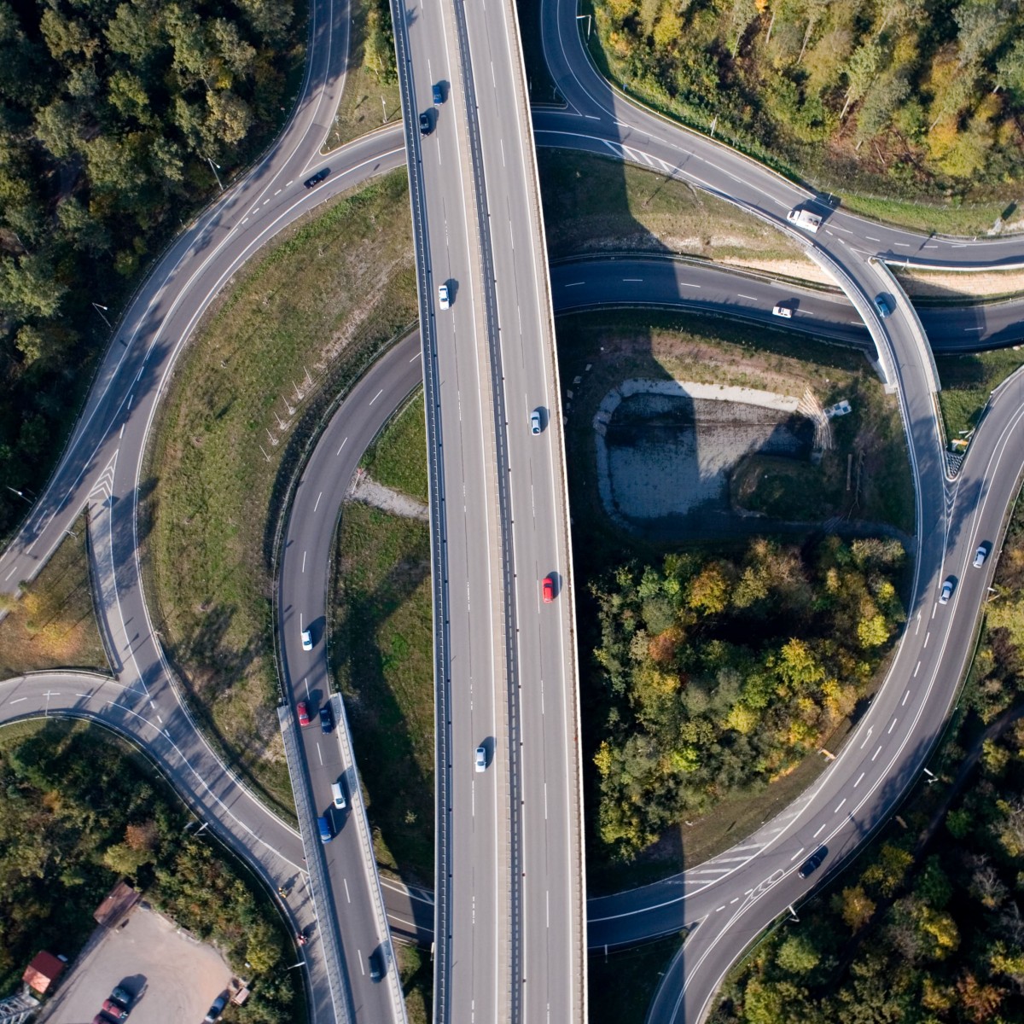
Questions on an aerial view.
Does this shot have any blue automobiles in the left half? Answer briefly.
Yes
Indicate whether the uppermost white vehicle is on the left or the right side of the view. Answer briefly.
right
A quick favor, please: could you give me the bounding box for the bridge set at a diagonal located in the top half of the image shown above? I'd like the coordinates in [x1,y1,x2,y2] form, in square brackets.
[805,250,942,396]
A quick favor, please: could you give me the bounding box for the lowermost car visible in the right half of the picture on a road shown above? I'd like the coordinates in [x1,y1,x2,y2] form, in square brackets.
[800,851,823,876]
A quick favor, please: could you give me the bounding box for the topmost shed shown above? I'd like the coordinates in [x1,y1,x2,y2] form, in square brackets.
[90,876,145,936]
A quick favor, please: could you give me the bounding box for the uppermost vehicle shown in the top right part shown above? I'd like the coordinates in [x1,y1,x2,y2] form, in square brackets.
[786,211,822,233]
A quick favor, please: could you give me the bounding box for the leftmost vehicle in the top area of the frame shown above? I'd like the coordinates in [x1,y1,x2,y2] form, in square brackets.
[303,172,326,189]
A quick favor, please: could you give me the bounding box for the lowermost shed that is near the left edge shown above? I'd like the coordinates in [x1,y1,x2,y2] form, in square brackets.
[20,946,68,996]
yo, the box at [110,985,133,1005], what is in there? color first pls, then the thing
blue car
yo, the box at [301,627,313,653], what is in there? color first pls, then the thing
white vehicle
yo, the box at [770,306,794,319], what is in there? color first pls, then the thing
white vehicle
